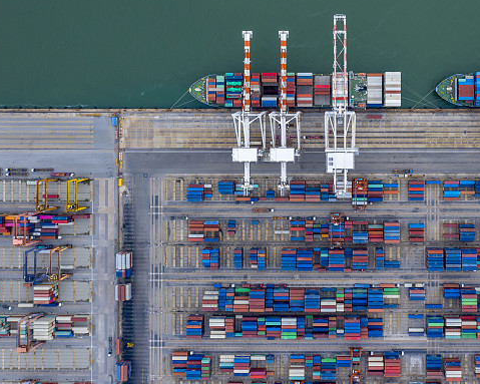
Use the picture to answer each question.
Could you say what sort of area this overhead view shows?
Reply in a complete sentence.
It's a port.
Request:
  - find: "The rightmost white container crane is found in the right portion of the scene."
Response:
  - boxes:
[321,14,360,199]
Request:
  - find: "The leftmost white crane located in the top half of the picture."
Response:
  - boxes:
[232,30,269,197]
